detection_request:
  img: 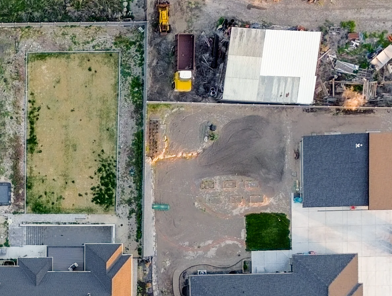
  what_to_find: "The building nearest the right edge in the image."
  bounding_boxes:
[291,132,392,211]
